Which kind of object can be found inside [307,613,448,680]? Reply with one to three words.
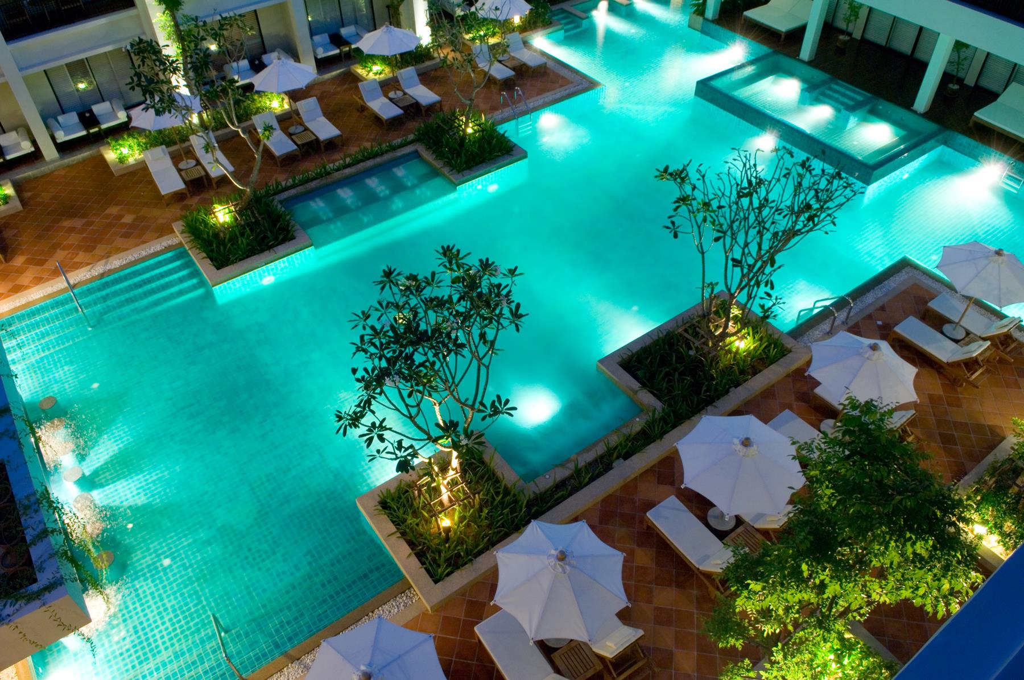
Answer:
umbrella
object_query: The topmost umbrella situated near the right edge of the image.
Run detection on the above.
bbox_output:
[930,241,1024,341]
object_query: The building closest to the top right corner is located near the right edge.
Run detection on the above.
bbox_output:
[800,0,1024,113]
